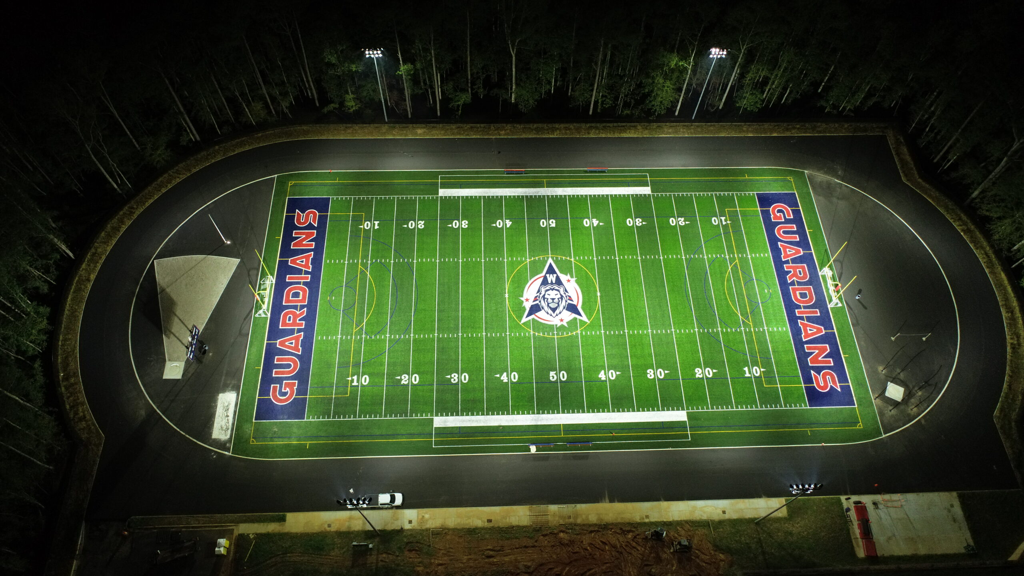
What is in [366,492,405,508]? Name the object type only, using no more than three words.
vehicle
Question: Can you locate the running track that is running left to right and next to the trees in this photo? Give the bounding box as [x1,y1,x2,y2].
[68,134,1021,576]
